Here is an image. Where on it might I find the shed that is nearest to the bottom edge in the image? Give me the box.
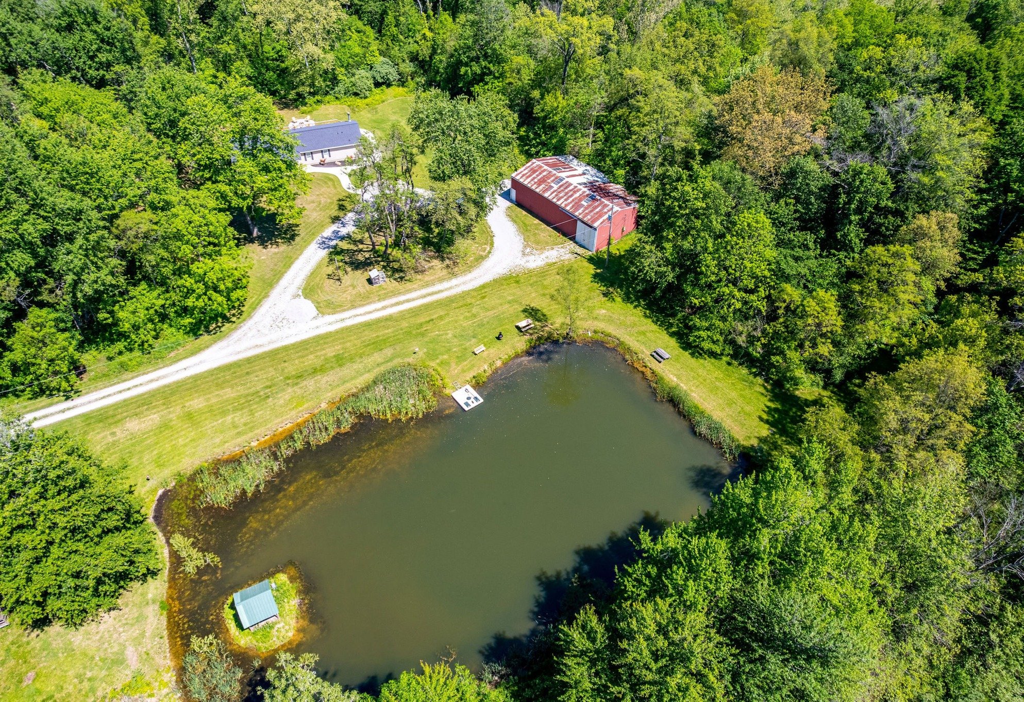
[232,582,277,638]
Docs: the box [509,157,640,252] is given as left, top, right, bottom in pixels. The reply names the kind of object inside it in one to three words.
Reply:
barn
